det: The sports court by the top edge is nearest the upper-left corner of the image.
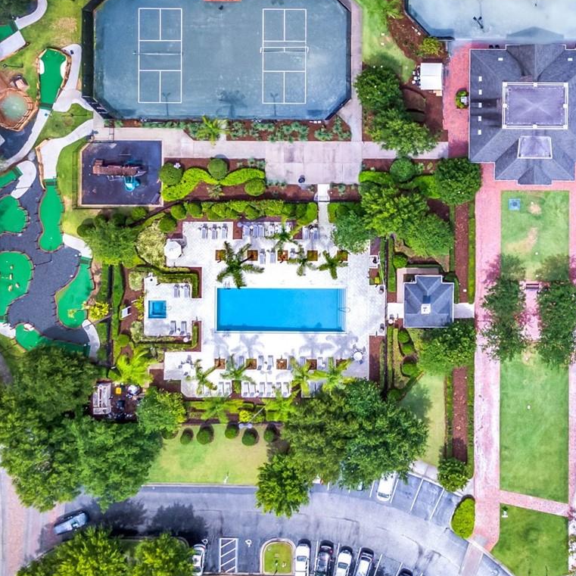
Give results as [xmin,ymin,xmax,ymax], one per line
[93,0,348,118]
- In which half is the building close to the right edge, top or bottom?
top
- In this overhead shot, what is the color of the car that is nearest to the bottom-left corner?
blue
